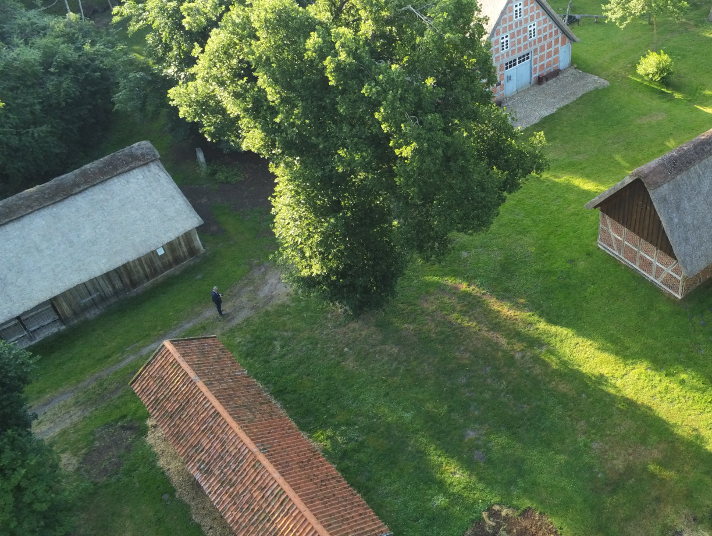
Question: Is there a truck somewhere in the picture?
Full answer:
No, I can't see a single truck in this photo.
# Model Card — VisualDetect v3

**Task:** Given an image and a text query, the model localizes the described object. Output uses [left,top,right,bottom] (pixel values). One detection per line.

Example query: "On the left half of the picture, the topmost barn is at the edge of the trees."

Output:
[0,137,208,353]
